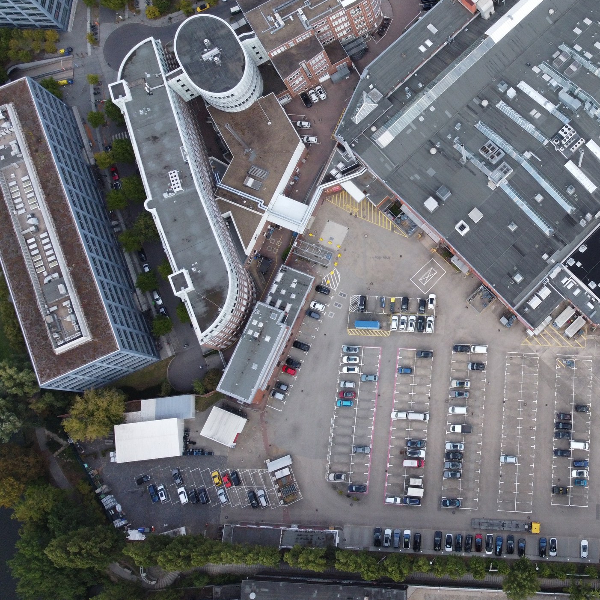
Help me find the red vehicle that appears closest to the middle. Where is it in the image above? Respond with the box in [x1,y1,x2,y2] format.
[281,364,298,376]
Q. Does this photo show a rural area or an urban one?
urban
